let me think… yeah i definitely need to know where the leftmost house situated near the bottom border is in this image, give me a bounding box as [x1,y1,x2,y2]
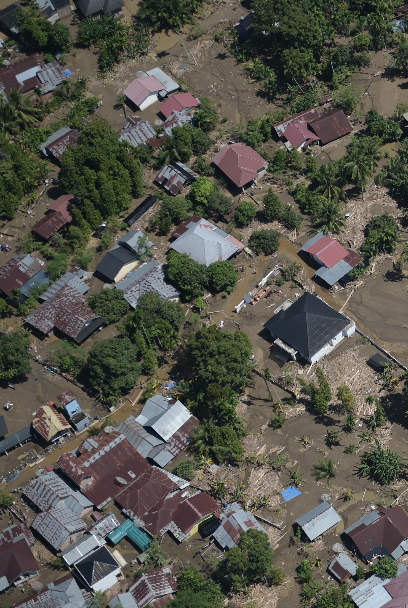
[0,519,41,595]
